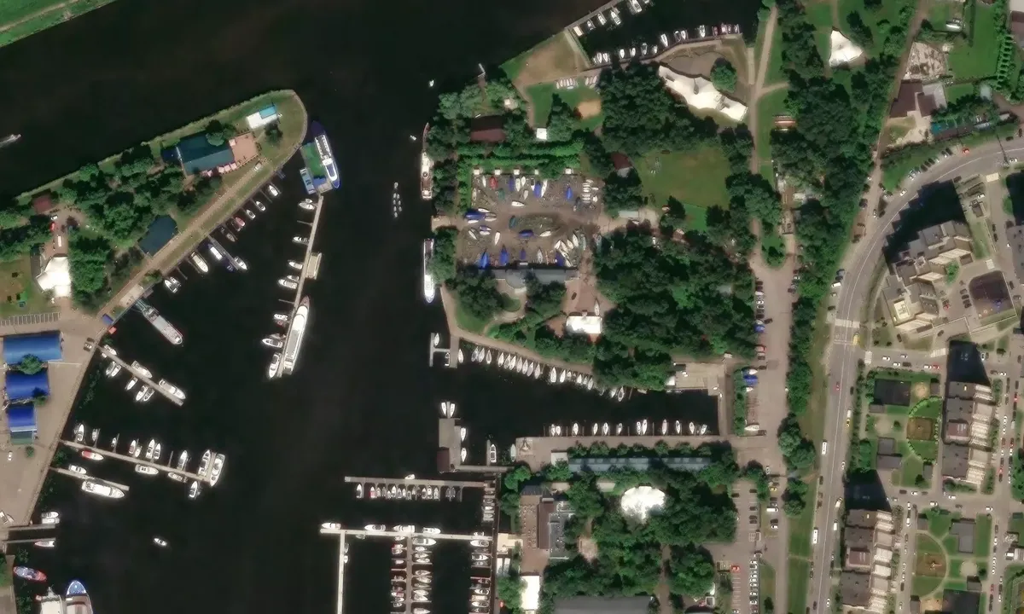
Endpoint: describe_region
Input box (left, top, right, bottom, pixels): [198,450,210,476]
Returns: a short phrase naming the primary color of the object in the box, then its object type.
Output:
white boat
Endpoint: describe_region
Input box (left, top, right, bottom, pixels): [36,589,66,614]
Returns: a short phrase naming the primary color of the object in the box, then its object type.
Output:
white ship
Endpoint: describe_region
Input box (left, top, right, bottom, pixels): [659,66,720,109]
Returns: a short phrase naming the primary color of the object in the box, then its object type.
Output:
white tent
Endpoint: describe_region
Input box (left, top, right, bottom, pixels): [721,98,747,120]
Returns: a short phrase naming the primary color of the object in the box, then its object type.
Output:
white tent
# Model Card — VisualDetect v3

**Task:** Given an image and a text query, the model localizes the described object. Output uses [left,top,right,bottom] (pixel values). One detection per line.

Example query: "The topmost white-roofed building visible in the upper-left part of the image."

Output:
[247,104,278,129]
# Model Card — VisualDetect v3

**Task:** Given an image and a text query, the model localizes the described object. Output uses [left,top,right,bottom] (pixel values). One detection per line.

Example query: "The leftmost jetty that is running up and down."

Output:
[271,195,324,377]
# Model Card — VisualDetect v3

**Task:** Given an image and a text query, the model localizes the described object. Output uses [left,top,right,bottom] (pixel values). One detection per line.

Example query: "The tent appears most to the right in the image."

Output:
[830,31,862,66]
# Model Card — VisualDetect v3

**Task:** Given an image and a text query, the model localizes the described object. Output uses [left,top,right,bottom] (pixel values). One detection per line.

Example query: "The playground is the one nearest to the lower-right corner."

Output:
[916,554,946,577]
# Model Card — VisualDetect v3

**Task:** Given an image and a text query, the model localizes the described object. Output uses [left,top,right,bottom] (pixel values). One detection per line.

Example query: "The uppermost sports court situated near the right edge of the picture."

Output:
[970,271,1015,320]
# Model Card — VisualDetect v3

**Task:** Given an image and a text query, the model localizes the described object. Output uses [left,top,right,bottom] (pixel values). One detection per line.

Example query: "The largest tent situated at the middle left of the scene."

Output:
[37,257,71,295]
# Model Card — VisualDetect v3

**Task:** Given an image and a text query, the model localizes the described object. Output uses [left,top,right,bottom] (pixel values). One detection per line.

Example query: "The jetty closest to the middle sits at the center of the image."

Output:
[430,333,458,368]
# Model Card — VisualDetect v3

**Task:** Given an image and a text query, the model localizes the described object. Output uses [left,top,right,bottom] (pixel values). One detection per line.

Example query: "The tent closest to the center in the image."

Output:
[567,310,602,333]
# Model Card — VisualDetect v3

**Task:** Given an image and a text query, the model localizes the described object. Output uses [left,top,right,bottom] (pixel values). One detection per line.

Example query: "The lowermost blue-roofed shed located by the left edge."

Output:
[6,404,36,445]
